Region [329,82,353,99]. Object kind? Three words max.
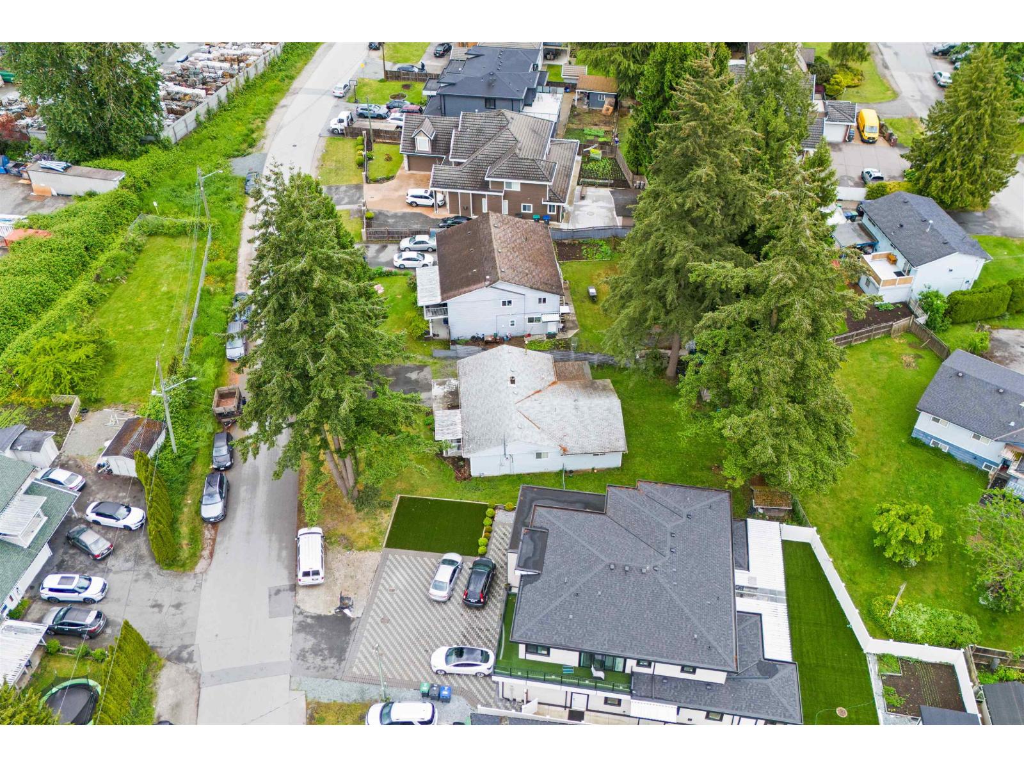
car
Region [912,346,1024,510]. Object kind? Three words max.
house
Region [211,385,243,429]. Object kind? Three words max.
trailer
